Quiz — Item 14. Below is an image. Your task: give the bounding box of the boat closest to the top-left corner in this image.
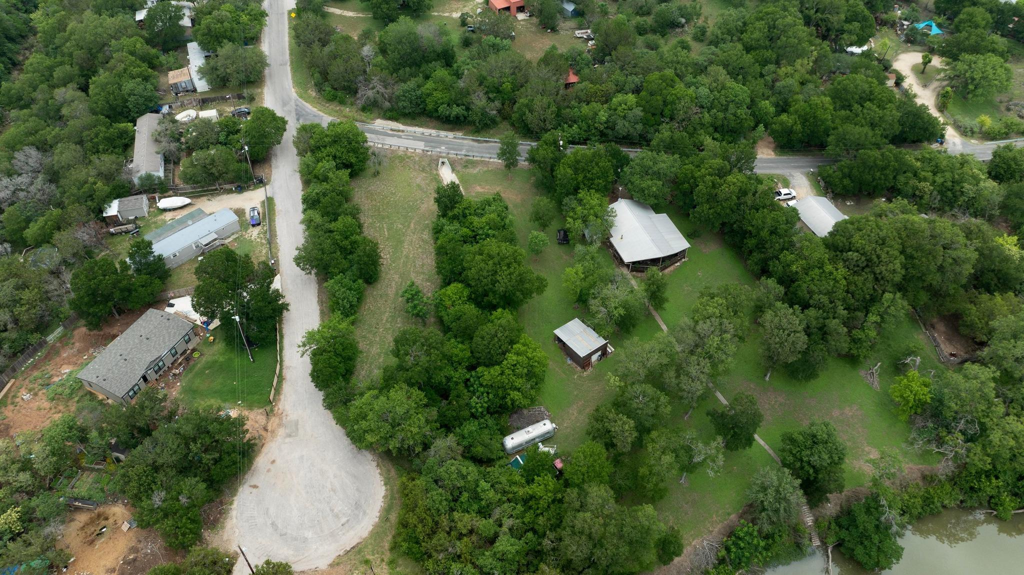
[171,108,198,121]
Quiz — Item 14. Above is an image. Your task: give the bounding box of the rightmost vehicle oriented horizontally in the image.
[773,189,800,203]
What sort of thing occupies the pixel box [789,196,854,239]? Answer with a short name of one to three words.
building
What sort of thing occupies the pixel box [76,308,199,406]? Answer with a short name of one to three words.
house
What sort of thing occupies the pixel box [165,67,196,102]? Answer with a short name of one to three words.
shed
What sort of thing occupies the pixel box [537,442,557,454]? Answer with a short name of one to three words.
boat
